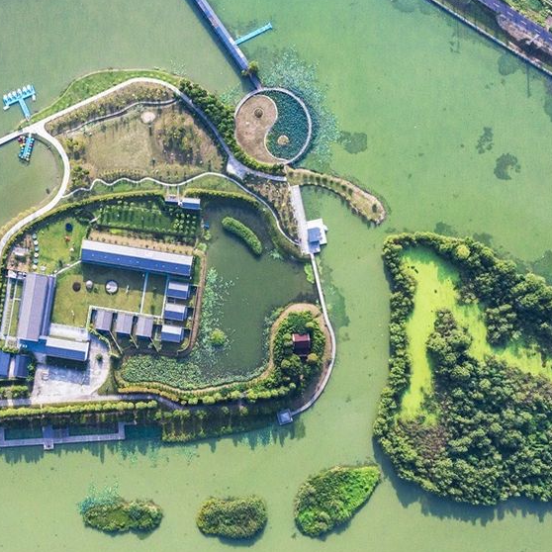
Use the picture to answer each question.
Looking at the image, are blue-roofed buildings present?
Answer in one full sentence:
Yes, I can see a blue-roofed building in this picture.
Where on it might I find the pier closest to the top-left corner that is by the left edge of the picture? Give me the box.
[3,85,35,124]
